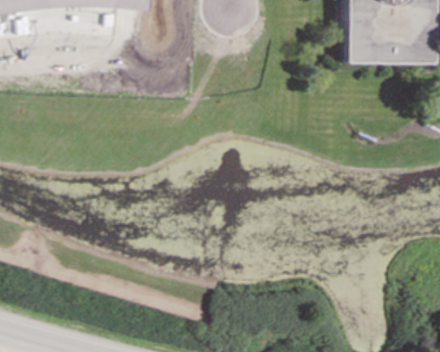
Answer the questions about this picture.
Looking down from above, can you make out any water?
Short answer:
Yes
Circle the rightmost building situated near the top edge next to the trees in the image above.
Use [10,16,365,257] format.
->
[338,0,438,67]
